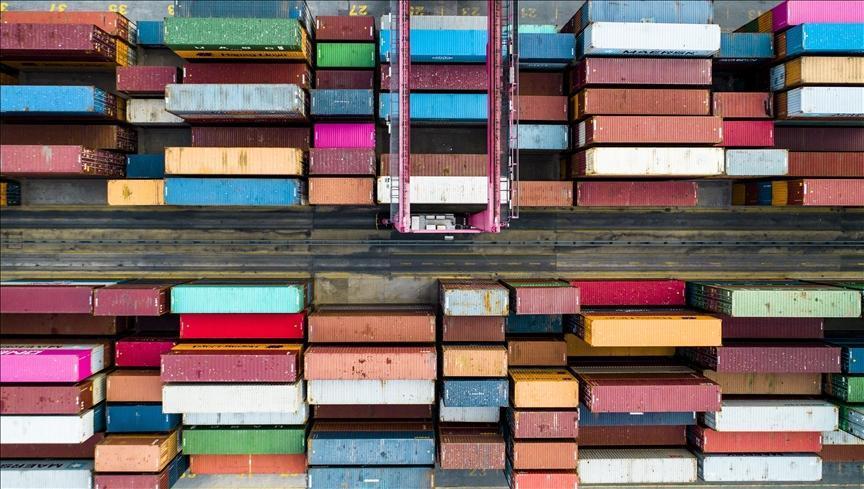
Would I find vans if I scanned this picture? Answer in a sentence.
No, no van is visible in the scene.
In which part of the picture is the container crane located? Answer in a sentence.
The container crane is in the top part of the image.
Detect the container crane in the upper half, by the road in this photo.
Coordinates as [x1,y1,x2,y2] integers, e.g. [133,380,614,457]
[373,0,525,234]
